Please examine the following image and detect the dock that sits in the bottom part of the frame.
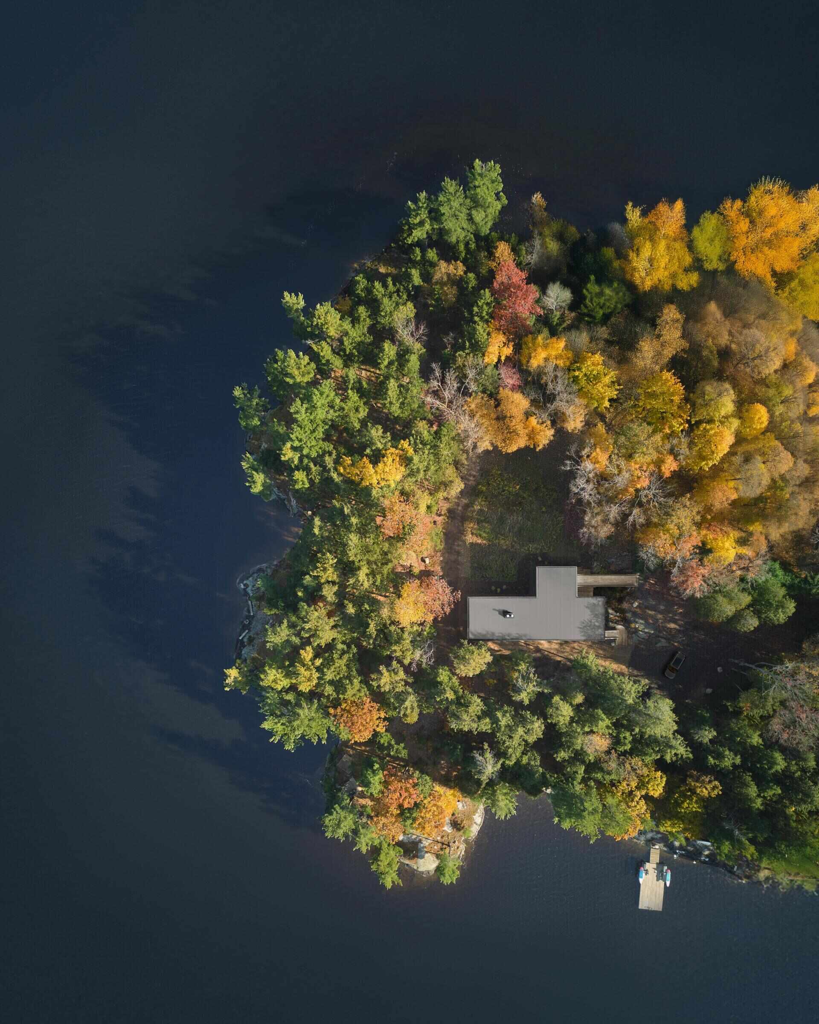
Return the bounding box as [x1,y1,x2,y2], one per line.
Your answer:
[638,848,666,912]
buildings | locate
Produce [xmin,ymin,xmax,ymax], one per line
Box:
[468,567,605,640]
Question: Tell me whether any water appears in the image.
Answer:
Yes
